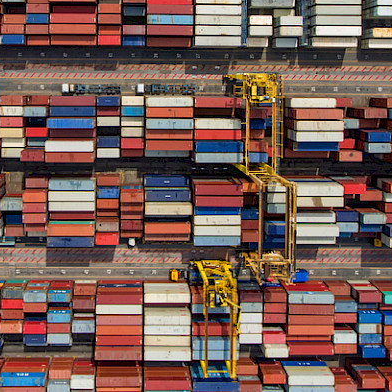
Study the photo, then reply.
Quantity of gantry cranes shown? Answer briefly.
3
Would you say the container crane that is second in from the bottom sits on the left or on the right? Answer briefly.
right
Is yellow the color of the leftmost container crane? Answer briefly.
Yes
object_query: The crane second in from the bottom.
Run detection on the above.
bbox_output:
[234,166,295,285]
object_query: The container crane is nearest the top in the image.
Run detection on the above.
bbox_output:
[225,68,284,176]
